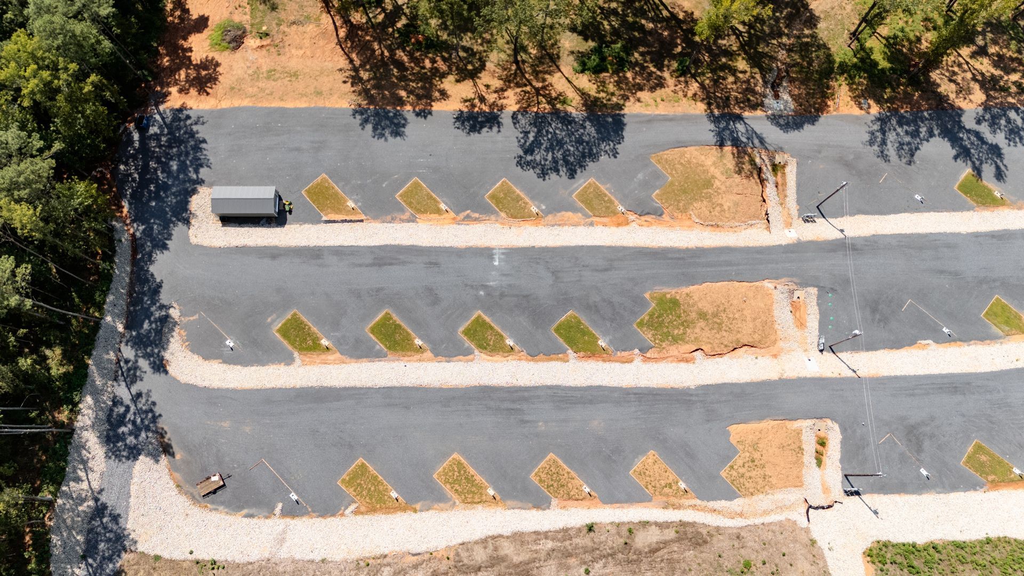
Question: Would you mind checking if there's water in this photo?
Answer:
No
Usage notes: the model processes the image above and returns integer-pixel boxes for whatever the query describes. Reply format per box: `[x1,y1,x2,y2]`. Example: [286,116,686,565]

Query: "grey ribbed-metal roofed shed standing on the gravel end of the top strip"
[210,186,284,219]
